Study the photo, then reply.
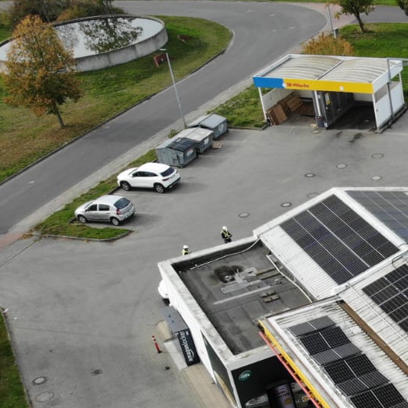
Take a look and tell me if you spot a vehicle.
Yes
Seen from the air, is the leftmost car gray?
Yes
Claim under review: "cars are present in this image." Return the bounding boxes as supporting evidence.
[116,163,179,192]
[157,283,168,301]
[73,196,136,225]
